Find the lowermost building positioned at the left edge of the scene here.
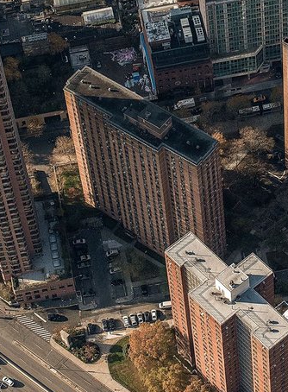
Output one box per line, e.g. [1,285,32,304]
[6,198,77,288]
